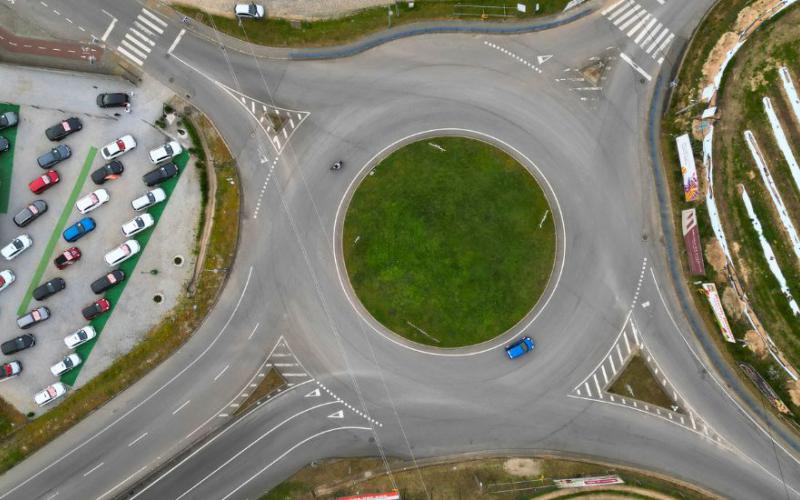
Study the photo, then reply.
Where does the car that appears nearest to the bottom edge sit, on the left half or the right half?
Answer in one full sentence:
The car that appears nearest to the bottom edge appears in the left half of the scene.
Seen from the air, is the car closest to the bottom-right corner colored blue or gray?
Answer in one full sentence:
The car closest to the bottom-right corner is blue.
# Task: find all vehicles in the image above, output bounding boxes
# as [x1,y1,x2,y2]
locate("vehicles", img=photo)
[0,109,21,129]
[16,306,51,329]
[141,162,179,188]
[62,326,96,351]
[59,217,97,242]
[48,353,83,378]
[0,270,16,291]
[35,144,73,170]
[73,189,110,214]
[0,234,33,259]
[234,2,266,20]
[29,277,67,302]
[79,298,112,322]
[90,161,124,184]
[88,270,126,295]
[45,119,83,141]
[505,337,534,359]
[100,135,138,159]
[27,170,61,194]
[52,248,84,270]
[121,213,155,237]
[10,200,48,225]
[30,382,68,409]
[132,188,166,211]
[147,141,184,164]
[103,240,140,266]
[0,362,23,381]
[0,334,38,356]
[95,91,131,109]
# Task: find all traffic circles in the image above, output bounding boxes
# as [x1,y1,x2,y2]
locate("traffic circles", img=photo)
[257,50,641,434]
